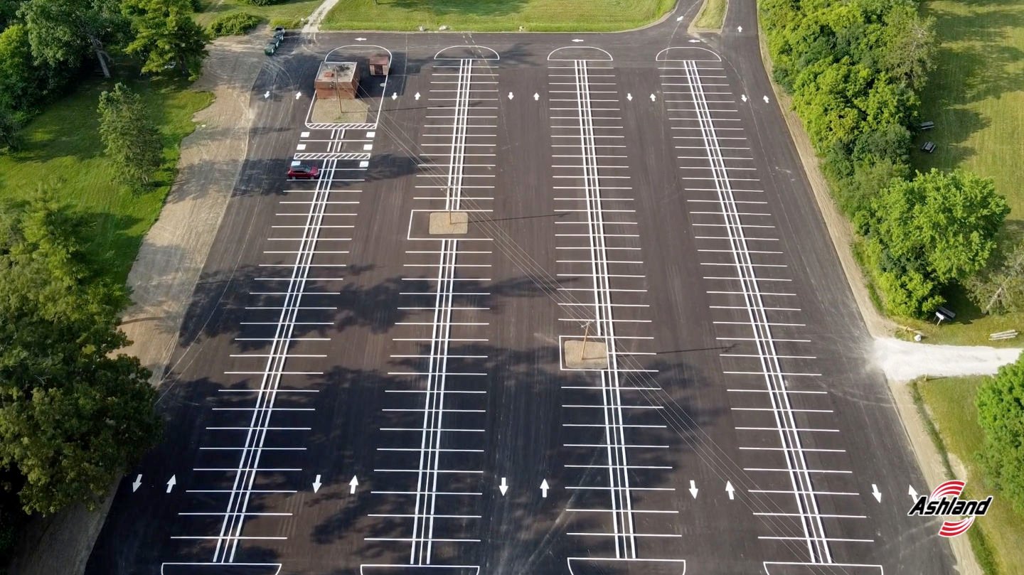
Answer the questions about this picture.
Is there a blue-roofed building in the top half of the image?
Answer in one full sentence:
No, no blue-roofed building can be made out in the top half of the image.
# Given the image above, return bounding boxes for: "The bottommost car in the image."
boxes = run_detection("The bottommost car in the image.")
[288,164,319,179]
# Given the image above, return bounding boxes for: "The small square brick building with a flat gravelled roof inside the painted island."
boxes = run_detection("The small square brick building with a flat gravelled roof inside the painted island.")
[315,61,358,98]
